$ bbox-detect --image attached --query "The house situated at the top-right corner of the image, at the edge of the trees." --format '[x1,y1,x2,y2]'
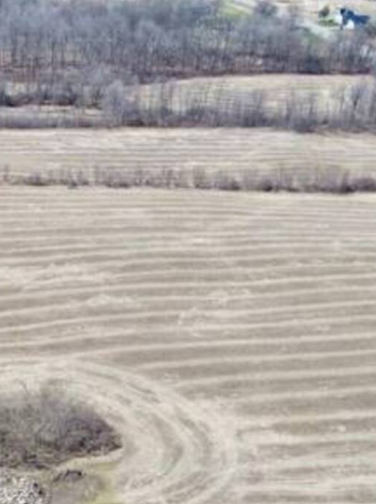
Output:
[340,10,376,29]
